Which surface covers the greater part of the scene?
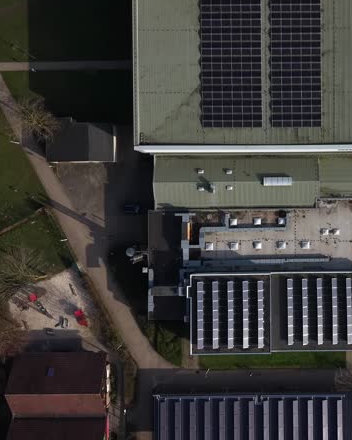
buildings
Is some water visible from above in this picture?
No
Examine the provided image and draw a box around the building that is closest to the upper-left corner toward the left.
[47,121,120,163]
